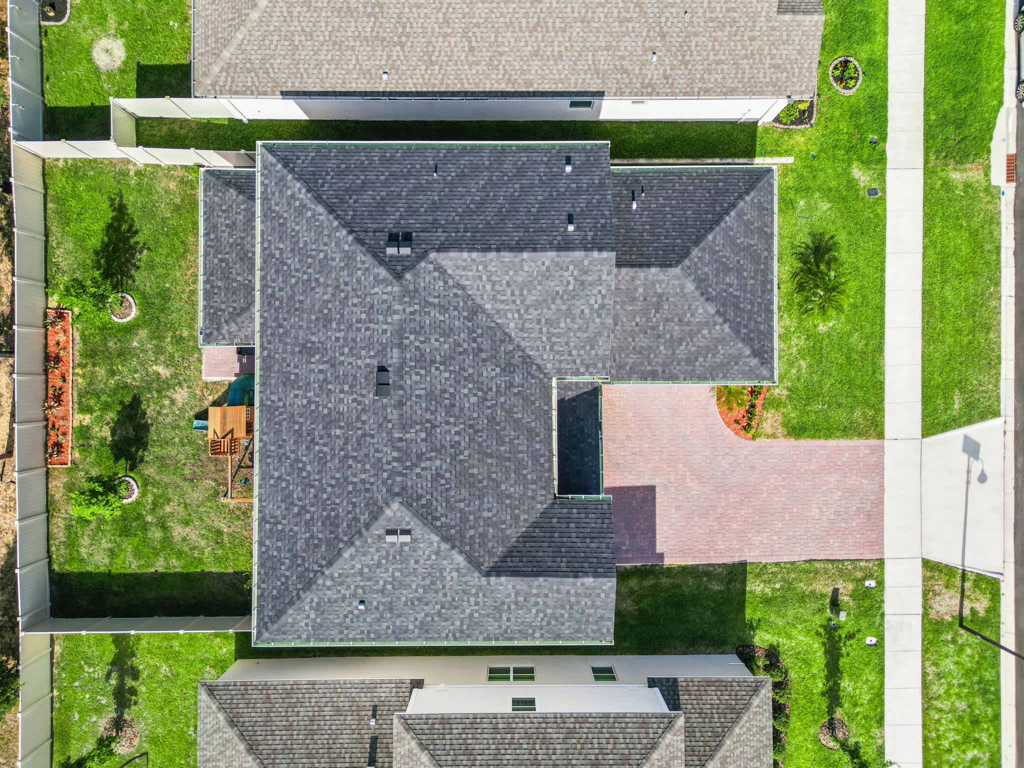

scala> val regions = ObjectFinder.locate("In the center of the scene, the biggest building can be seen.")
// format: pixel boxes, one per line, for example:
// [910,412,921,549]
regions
[198,140,779,647]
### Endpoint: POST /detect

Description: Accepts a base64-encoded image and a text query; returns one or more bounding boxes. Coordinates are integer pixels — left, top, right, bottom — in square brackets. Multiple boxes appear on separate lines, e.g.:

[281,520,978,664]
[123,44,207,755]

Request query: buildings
[196,656,773,768]
[198,140,779,647]
[189,0,828,121]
